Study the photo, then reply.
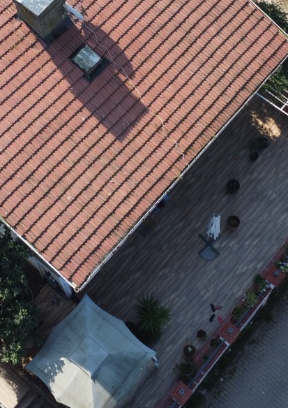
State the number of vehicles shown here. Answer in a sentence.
I count no vehicles.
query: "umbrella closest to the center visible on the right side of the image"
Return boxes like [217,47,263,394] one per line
[194,215,223,271]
